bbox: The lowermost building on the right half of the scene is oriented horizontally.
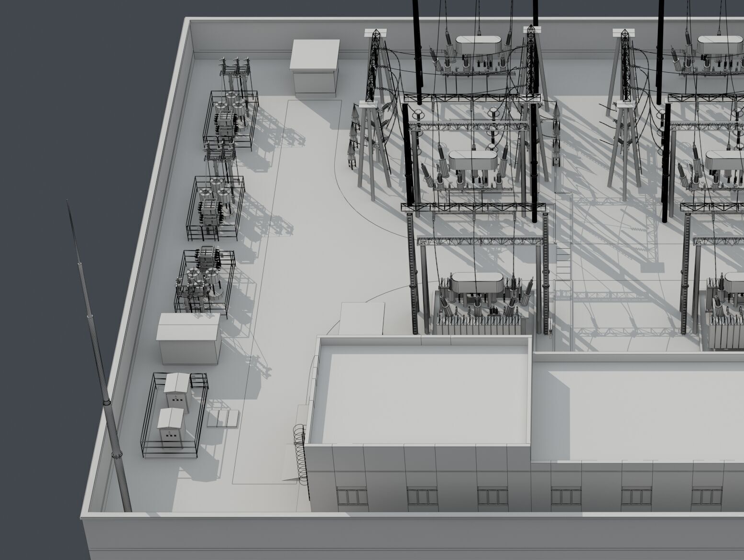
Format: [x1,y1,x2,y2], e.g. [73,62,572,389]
[304,336,744,513]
